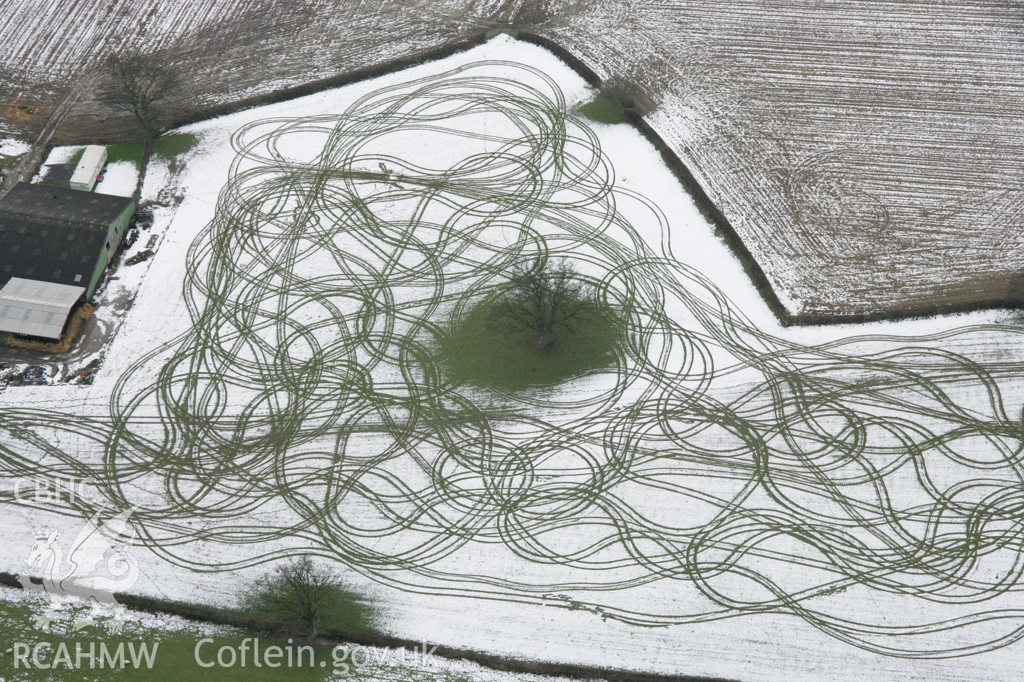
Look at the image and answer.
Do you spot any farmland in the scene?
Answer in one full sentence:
Yes, farmland can be seen from above here.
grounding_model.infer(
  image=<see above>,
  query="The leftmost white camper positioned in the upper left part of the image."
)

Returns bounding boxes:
[70,146,107,193]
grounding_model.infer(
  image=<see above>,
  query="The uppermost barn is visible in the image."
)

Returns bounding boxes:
[0,187,136,299]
